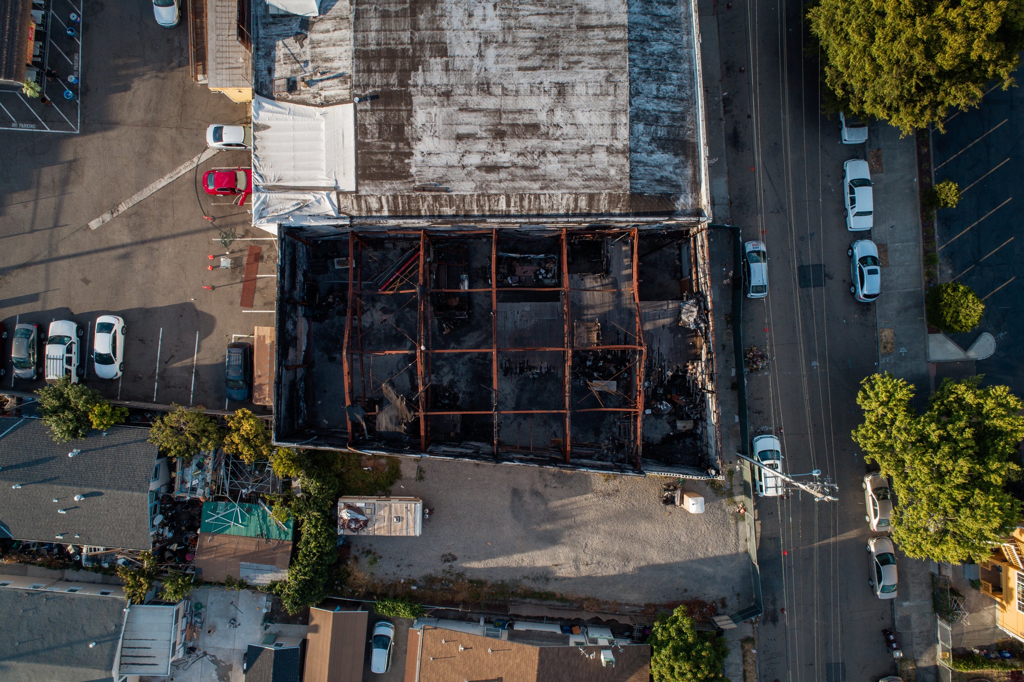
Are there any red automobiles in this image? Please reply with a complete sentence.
Yes, there is a red automobile in the image.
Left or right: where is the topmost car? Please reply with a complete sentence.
It is on the left.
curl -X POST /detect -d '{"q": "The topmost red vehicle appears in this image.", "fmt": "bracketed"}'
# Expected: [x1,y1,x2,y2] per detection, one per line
[203,168,256,206]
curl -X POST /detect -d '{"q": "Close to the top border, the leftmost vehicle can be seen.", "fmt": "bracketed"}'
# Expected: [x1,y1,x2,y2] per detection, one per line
[151,0,184,31]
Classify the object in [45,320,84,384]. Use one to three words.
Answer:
car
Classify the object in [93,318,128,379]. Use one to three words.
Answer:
car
